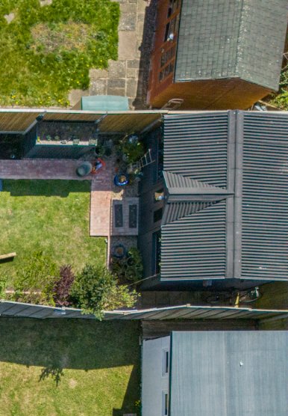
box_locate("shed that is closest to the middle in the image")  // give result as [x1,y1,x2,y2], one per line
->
[140,112,288,290]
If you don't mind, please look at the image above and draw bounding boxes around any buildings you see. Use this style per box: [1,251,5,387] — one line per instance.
[142,331,288,416]
[140,112,288,290]
[148,0,283,109]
